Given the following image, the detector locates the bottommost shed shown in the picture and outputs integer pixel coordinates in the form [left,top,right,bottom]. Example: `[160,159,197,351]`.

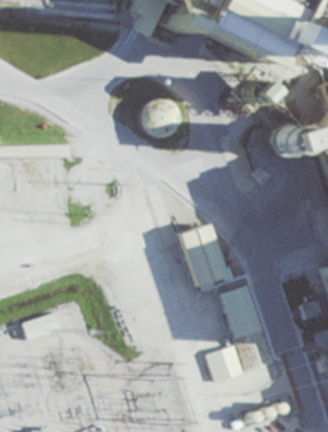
[203,346,244,382]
